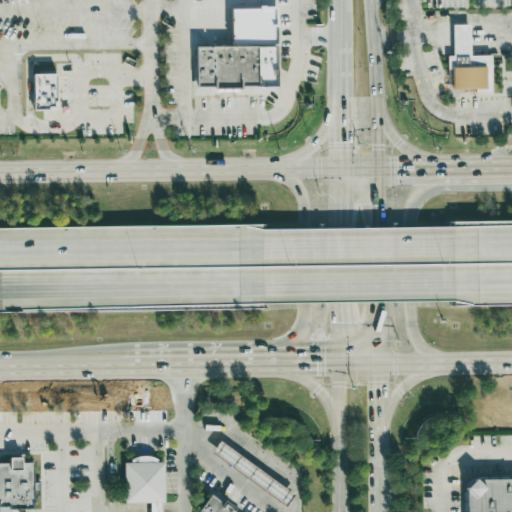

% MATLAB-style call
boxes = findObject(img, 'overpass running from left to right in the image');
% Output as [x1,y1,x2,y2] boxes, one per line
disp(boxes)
[0,220,512,315]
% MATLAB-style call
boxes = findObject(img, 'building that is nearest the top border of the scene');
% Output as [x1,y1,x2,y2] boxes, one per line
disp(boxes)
[234,5,280,45]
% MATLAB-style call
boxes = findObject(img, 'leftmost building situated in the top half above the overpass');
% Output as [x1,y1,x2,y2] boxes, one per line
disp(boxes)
[34,73,58,110]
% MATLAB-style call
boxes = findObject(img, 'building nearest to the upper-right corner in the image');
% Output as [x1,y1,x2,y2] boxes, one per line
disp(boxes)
[448,24,495,94]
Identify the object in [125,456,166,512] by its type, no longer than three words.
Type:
building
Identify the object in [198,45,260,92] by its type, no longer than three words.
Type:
building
